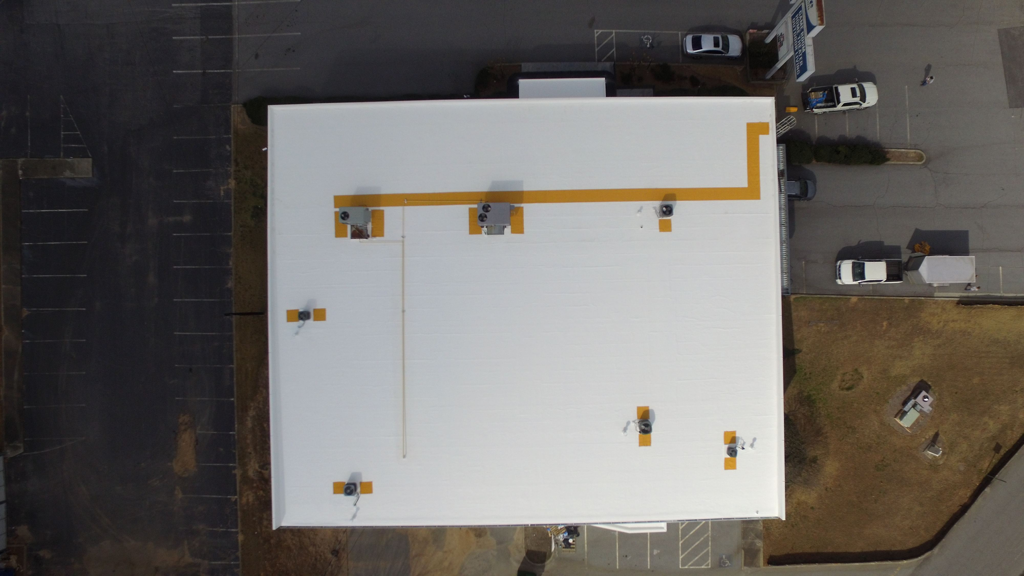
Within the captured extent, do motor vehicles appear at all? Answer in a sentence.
Yes, this view includes a motor vehicle.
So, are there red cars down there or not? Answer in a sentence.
No, there isn't any red car down there.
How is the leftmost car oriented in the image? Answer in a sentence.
Seen from above, the leftmost car lies from left to right.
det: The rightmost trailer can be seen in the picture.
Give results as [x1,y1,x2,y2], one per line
[903,252,976,286]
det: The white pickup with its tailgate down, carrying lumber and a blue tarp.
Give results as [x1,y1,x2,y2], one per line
[799,79,879,113]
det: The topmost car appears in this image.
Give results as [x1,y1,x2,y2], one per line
[682,31,743,59]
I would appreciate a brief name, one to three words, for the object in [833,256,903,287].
truck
